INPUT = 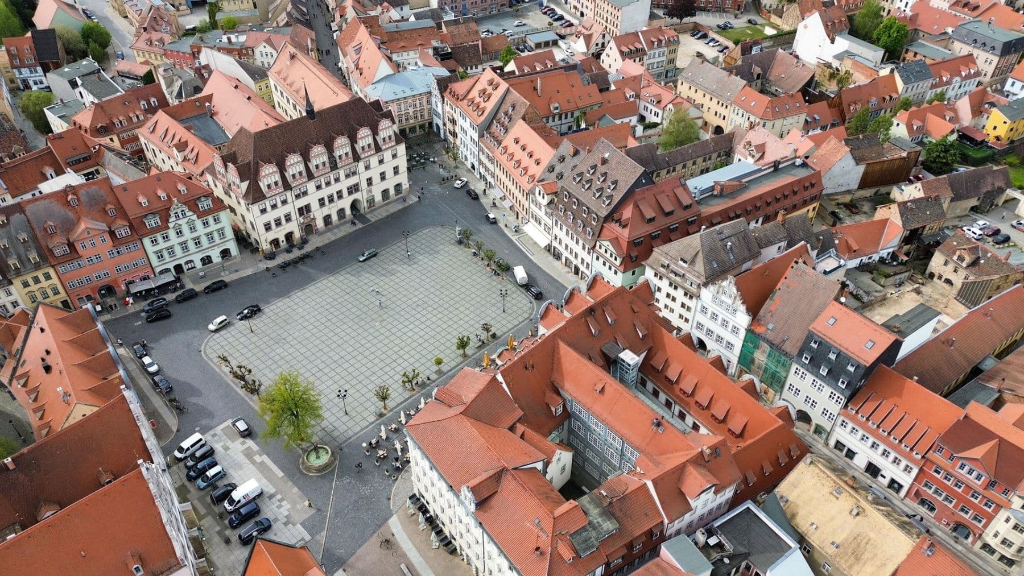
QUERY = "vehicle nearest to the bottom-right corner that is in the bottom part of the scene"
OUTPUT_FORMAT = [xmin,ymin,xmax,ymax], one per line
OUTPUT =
[901,510,936,534]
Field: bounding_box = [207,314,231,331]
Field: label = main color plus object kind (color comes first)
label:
white car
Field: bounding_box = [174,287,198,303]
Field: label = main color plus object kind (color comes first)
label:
black car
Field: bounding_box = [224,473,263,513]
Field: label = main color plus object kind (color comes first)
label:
white car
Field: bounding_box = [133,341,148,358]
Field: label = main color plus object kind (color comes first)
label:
gray car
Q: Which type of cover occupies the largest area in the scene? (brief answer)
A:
buildings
